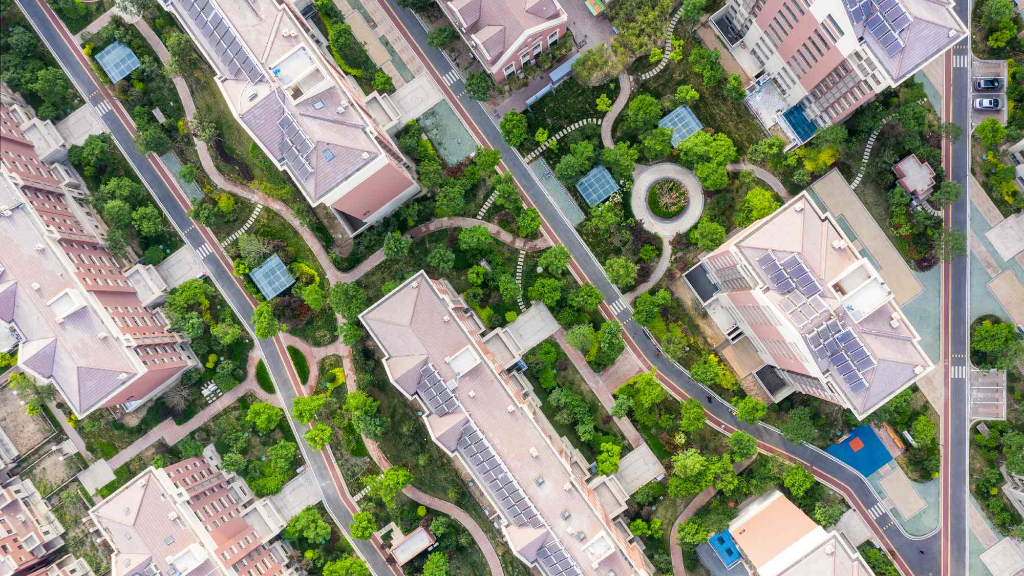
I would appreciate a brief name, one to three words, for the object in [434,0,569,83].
building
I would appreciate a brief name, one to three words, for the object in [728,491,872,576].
building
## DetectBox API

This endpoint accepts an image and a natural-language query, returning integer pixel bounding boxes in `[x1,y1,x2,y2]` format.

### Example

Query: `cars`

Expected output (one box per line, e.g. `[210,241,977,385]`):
[975,96,1006,110]
[976,76,1004,91]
